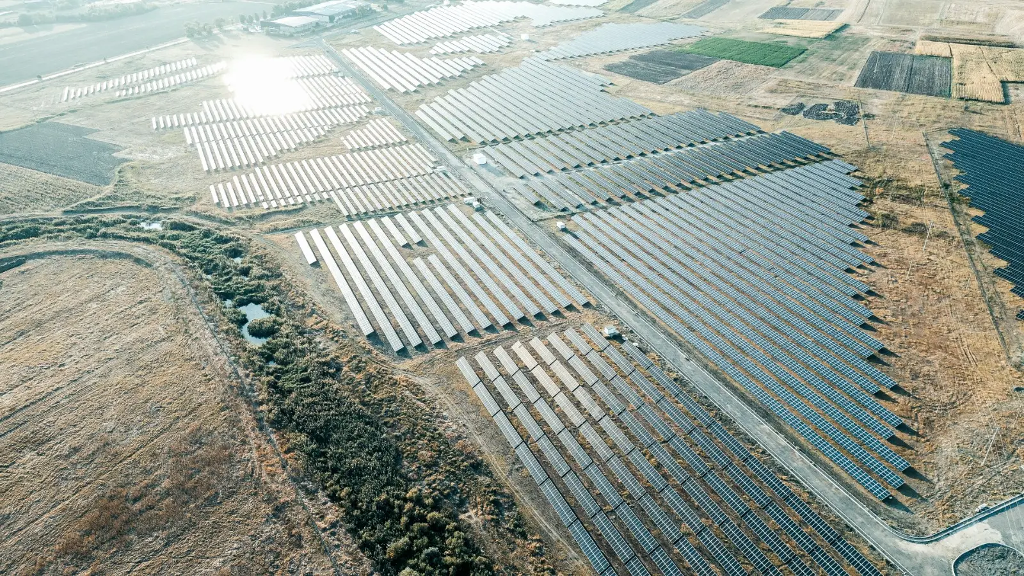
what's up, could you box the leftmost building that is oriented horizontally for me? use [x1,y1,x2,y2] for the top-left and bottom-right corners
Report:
[258,15,323,35]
